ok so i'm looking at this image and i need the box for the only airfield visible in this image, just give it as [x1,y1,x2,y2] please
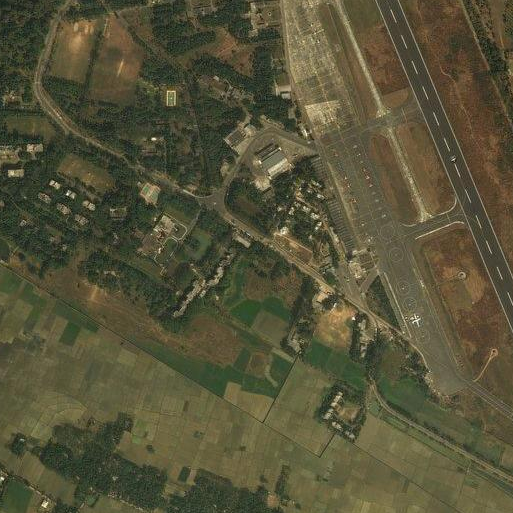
[285,0,513,421]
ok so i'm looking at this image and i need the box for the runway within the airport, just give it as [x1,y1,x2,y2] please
[374,0,513,333]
